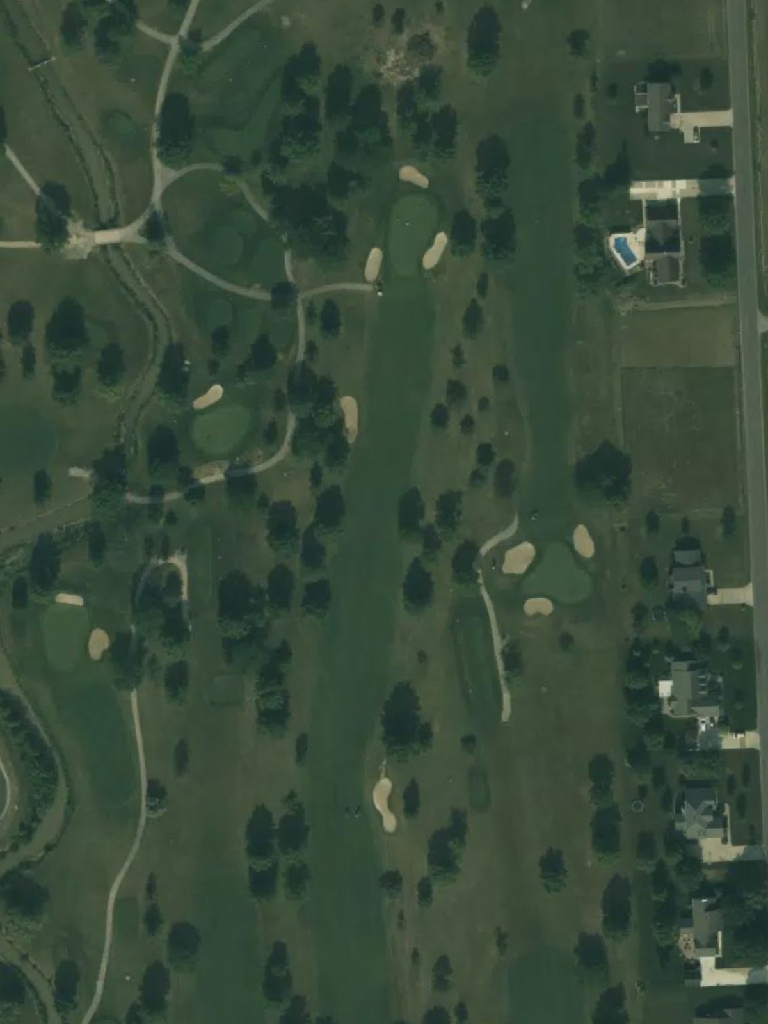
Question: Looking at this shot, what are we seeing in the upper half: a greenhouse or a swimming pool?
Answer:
swimming pool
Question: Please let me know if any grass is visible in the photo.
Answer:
Yes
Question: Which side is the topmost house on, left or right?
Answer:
right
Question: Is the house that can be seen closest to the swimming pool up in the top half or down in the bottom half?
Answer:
top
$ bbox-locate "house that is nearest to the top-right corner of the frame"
[635,81,674,132]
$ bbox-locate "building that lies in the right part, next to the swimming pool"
[646,218,680,284]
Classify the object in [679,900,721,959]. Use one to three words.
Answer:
house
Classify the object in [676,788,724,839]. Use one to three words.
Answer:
house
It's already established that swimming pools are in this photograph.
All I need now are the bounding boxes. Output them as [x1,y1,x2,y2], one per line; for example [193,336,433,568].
[609,228,645,273]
